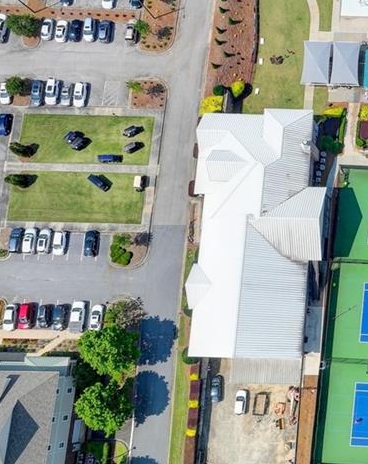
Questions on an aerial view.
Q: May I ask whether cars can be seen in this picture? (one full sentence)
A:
Yes, the frame does contain a car.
